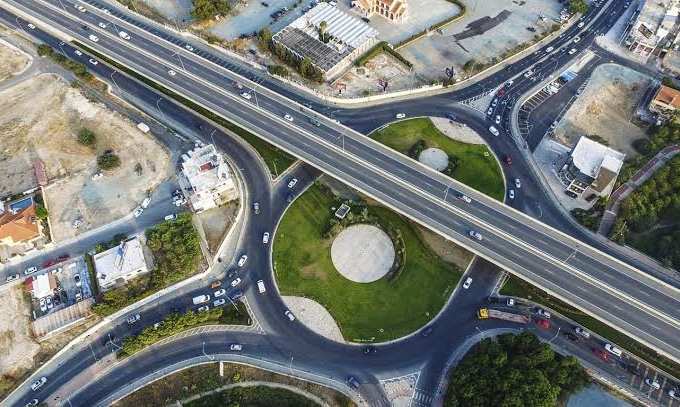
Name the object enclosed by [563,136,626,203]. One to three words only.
building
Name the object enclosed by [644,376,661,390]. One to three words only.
vehicle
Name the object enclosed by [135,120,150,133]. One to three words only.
vehicle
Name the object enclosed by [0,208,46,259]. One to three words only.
house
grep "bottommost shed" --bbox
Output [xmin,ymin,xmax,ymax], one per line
[33,299,96,339]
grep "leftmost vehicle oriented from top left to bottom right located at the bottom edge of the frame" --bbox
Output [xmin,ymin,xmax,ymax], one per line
[345,374,362,390]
